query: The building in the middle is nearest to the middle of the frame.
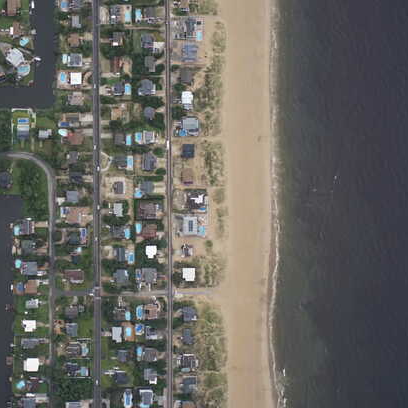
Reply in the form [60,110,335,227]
[187,189,204,211]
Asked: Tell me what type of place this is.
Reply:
beach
